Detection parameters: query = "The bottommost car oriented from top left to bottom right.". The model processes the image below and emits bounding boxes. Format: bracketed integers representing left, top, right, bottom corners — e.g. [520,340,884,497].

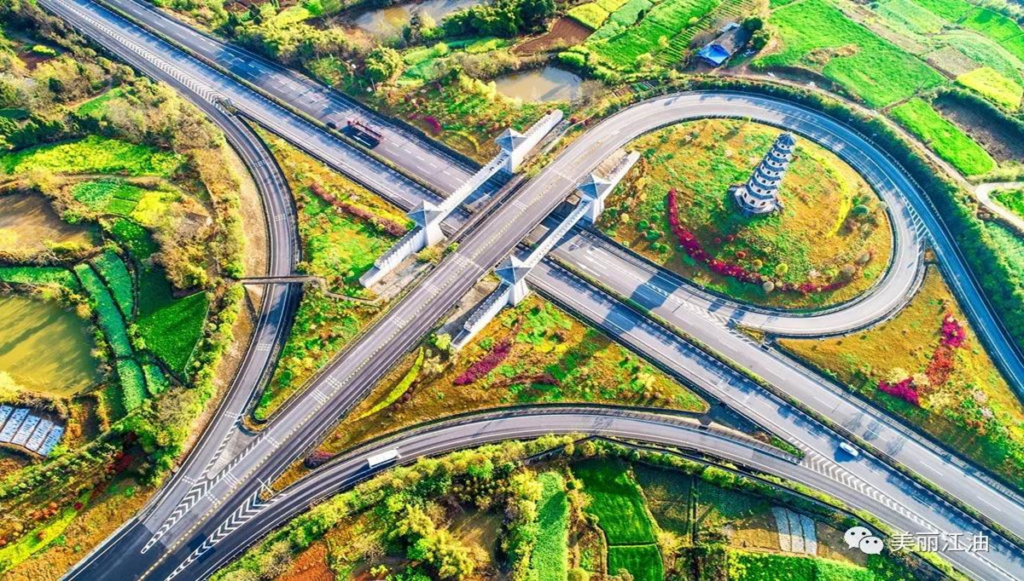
[839,442,858,457]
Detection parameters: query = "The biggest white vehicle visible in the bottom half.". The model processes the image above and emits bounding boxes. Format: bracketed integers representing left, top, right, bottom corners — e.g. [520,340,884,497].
[366,449,401,469]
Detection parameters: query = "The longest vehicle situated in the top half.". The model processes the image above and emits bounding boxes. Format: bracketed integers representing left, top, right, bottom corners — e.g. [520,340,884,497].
[347,119,384,142]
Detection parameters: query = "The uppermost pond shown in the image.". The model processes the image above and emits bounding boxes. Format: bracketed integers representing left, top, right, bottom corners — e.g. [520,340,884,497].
[359,0,475,30]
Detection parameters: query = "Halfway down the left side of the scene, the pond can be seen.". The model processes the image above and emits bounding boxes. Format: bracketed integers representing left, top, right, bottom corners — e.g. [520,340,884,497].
[0,295,100,395]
